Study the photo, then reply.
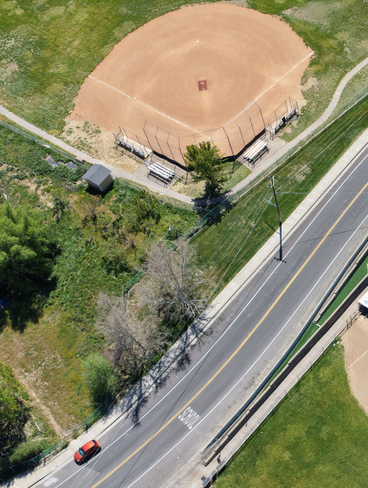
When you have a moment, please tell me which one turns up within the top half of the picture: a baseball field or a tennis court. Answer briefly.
baseball field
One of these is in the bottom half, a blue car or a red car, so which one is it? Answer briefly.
red car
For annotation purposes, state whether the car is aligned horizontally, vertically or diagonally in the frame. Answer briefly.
diagonally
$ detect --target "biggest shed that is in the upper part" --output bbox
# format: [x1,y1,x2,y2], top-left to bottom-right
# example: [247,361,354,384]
[82,164,113,193]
